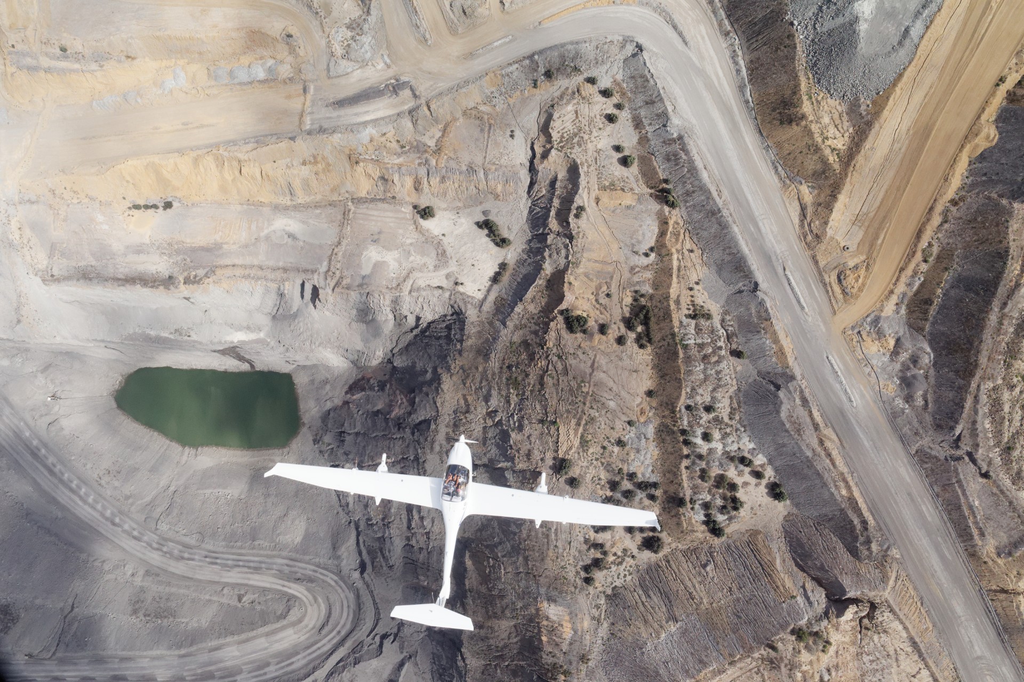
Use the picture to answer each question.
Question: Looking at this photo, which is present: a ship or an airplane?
airplane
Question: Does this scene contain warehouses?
No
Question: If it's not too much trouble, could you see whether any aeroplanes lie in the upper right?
No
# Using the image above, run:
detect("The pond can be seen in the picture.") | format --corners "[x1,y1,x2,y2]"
[116,367,300,449]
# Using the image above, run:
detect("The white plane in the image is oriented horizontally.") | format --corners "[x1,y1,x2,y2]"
[263,436,660,631]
